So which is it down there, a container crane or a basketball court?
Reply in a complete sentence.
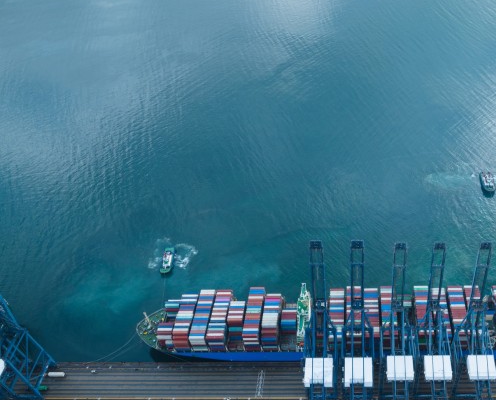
The one in the frame is a container crane.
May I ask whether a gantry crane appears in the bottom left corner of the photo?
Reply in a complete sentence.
Yes, a gantry crane shows up in the bottom left corner of the photo.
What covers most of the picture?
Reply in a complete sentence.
Most of the picture is covered by water.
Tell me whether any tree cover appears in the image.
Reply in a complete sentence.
No, there is no tree cover in the image.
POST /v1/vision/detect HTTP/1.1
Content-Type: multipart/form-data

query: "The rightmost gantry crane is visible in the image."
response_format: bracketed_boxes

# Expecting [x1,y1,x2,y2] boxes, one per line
[453,240,496,400]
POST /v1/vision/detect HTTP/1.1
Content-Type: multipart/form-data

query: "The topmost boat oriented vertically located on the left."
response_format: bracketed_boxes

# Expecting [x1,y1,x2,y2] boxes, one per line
[158,248,173,275]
